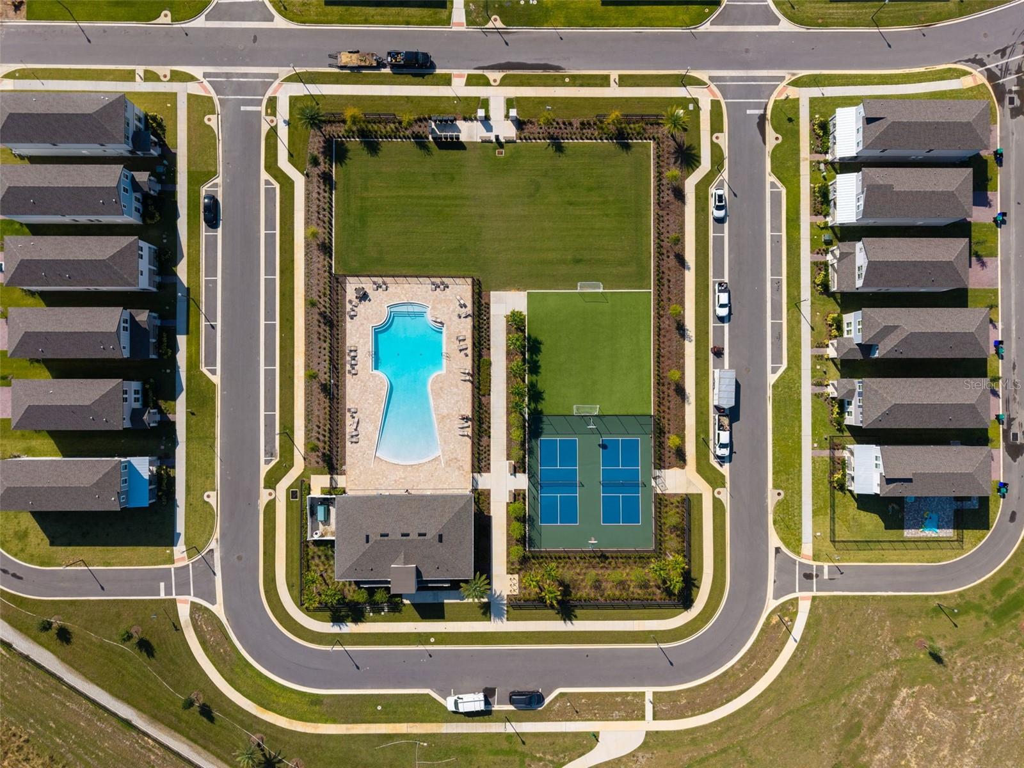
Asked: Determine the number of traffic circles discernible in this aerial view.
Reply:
zero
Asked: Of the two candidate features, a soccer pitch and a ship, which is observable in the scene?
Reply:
soccer pitch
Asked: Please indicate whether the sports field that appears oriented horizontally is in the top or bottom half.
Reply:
top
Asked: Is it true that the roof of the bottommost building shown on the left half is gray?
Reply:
Yes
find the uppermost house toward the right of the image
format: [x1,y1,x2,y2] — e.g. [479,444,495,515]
[823,100,990,164]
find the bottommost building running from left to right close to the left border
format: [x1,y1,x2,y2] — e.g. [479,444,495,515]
[0,455,163,511]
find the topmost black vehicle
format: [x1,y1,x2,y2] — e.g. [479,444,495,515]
[389,50,432,68]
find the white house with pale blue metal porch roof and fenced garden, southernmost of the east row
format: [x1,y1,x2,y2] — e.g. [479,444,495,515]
[843,444,991,497]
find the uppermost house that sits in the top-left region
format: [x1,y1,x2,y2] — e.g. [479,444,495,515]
[0,92,165,157]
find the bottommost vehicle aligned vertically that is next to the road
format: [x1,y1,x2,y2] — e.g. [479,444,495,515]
[715,415,732,455]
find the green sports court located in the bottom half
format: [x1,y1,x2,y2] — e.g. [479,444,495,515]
[528,417,655,550]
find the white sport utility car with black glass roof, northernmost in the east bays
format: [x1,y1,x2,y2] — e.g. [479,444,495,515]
[711,188,727,219]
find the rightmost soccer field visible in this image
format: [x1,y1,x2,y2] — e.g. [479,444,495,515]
[526,290,653,551]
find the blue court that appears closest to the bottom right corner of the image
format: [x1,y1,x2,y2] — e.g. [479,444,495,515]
[601,438,641,525]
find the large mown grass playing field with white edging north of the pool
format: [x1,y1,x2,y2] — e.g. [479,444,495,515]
[333,138,653,291]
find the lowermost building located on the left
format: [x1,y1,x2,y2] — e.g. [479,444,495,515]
[304,493,474,593]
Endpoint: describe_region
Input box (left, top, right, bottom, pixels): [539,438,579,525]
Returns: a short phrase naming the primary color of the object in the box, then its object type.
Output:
blue sports court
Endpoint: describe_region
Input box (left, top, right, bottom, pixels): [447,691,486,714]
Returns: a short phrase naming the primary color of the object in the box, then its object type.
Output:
white vehicle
